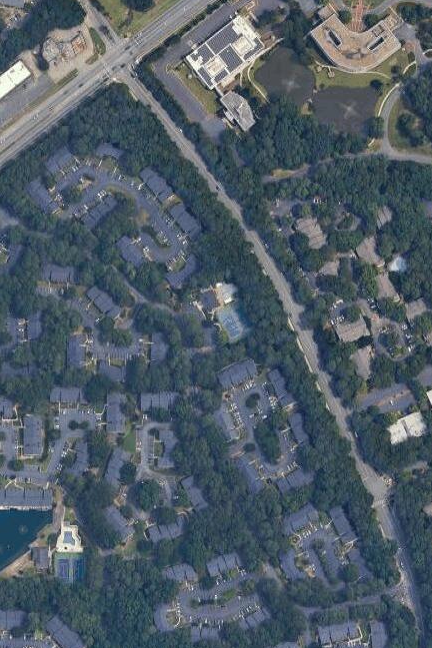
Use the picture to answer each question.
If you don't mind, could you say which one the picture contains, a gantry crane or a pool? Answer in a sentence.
It is a pool that can be seen here.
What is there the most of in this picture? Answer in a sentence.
For the most part, this view shows trees.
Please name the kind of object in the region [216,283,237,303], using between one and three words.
swimming pool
